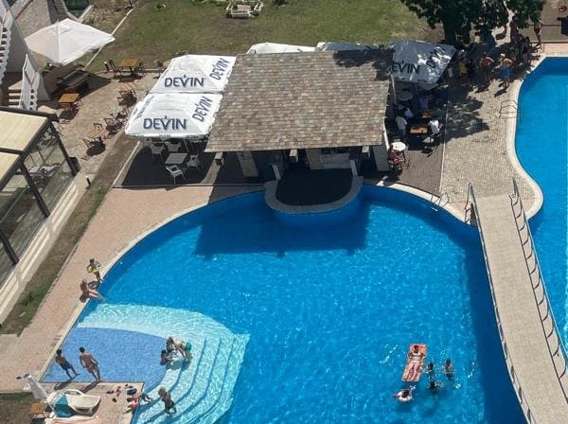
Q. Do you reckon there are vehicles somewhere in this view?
No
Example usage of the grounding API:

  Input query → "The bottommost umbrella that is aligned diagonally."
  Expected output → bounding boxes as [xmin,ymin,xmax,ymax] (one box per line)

[1,364,57,417]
